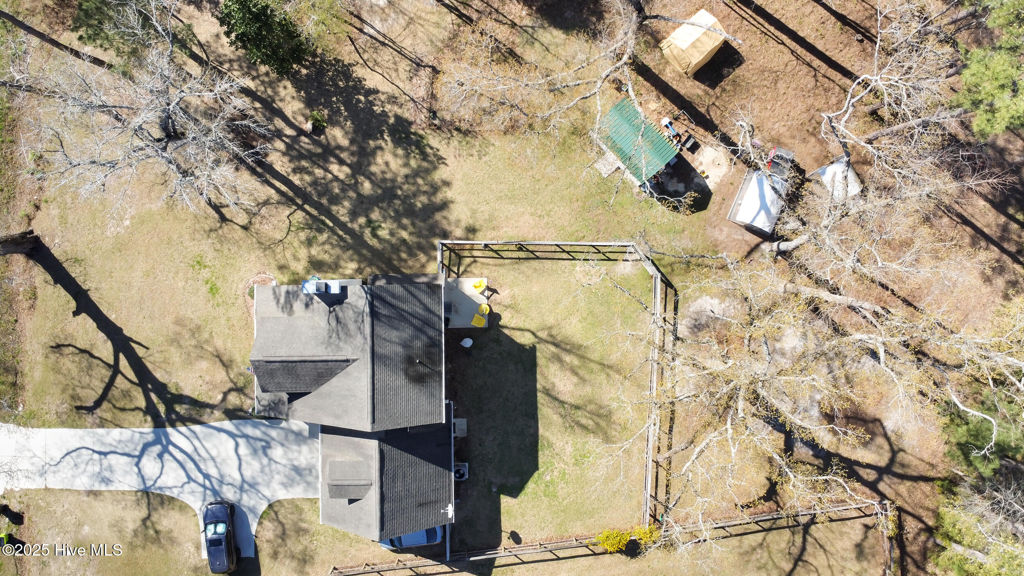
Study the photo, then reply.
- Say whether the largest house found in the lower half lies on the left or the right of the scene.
left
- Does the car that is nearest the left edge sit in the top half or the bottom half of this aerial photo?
bottom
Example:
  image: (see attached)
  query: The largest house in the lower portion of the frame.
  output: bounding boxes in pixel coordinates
[247,273,460,542]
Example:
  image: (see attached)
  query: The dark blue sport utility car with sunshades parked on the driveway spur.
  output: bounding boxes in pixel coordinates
[198,498,242,576]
